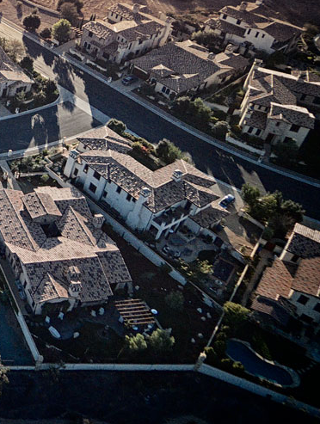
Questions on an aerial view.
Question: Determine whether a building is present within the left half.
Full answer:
Yes, within the left half there is a building.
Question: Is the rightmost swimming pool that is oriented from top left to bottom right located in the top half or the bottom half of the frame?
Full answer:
You can find the rightmost swimming pool that is oriented from top left to bottom right in the bottom half.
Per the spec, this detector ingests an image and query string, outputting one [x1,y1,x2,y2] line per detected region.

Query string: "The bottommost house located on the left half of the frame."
[0,190,132,315]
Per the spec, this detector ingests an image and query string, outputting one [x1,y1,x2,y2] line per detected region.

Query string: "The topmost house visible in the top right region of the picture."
[210,0,309,56]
